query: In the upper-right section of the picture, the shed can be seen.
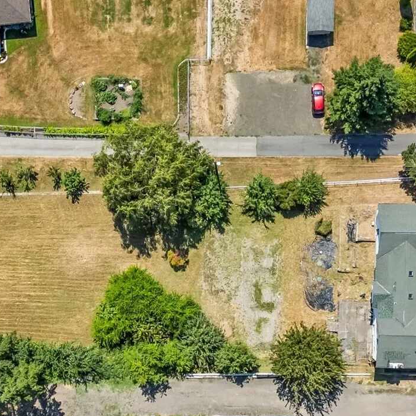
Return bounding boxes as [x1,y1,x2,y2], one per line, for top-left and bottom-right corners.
[305,0,334,38]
